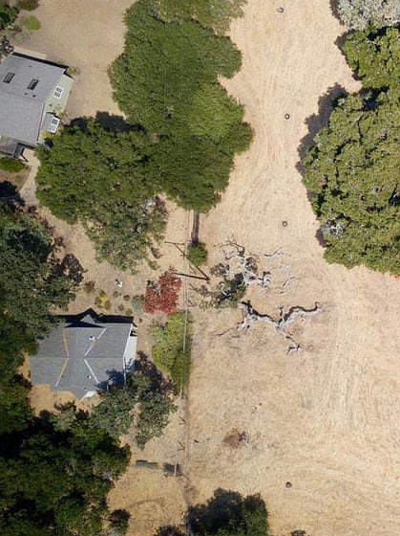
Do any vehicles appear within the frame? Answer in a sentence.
No, there appears to be no vehicle in this shot.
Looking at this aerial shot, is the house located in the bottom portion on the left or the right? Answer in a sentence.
The house located in the bottom portion is on the left side of the image.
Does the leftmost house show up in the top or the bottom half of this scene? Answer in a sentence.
The leftmost house is in the top half of the image.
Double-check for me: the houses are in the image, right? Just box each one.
[0,49,81,159]
[31,317,143,402]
